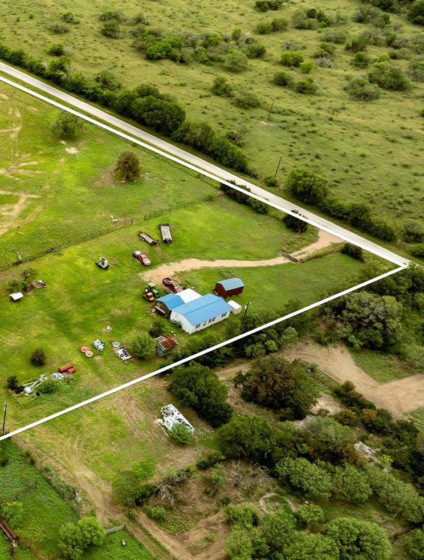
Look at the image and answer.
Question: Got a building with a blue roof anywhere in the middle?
Yes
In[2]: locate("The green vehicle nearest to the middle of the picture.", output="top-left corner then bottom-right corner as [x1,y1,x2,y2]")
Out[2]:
[145,282,162,297]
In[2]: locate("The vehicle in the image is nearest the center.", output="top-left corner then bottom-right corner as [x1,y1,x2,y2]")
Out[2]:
[163,278,185,293]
